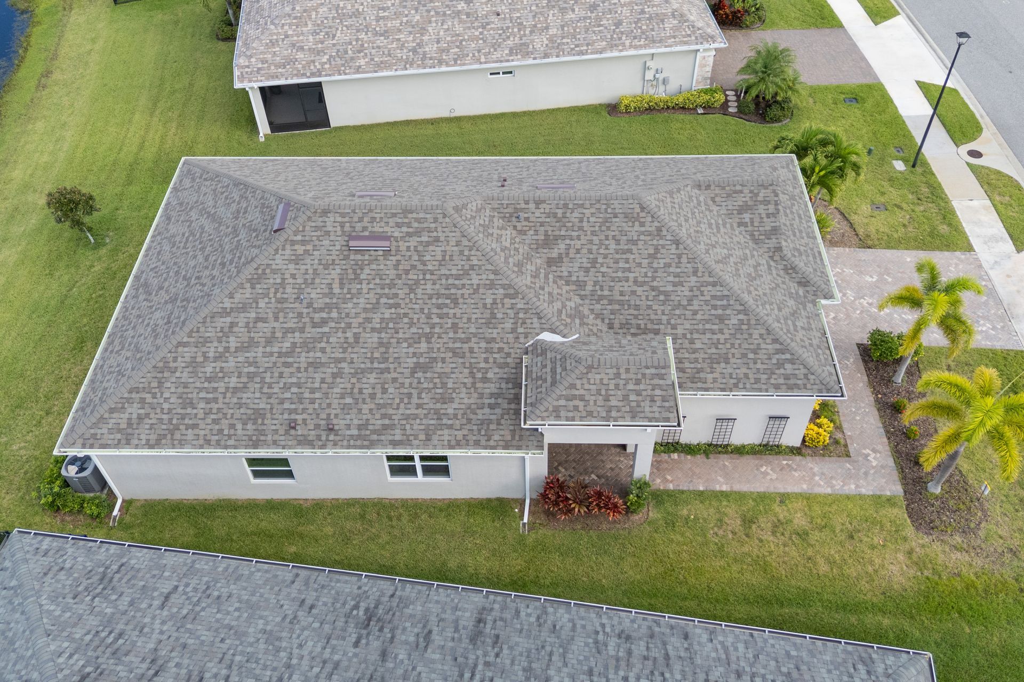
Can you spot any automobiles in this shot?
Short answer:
No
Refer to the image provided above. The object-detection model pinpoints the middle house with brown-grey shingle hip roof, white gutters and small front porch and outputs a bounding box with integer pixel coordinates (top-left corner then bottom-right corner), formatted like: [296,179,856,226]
[55,155,846,519]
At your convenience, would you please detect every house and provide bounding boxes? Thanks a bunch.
[55,155,846,519]
[235,0,727,138]
[0,530,935,682]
